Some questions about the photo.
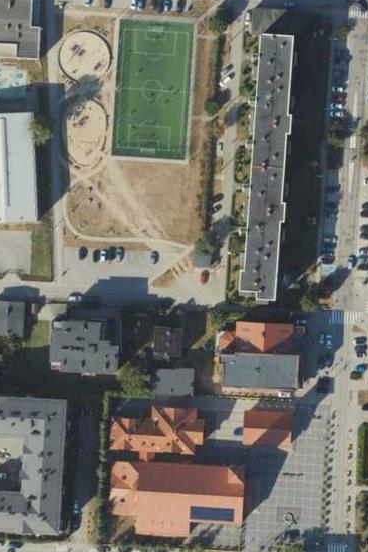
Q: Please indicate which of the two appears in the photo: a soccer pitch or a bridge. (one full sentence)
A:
Looking from above, you can make out a soccer pitch.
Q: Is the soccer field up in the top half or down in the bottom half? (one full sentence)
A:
The top half of the photo is where the soccer field is.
